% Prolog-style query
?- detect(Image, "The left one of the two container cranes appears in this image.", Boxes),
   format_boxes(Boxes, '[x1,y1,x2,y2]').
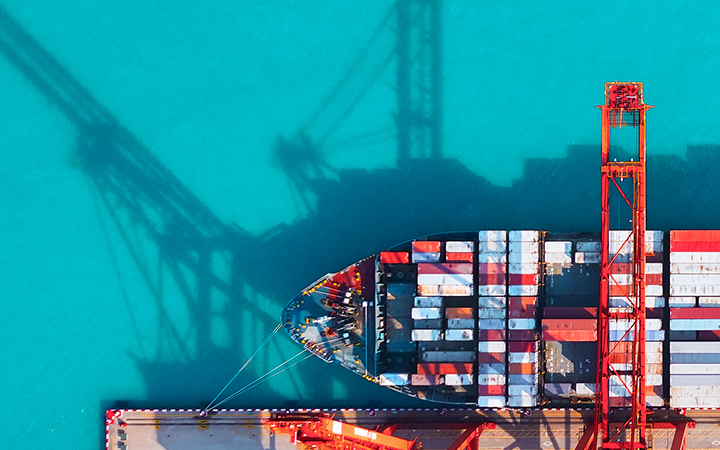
[256,413,494,450]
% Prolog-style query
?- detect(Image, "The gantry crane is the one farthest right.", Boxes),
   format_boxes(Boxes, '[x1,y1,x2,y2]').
[567,78,699,450]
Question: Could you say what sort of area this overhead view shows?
port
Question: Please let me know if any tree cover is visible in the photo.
No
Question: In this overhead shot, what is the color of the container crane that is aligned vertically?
red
